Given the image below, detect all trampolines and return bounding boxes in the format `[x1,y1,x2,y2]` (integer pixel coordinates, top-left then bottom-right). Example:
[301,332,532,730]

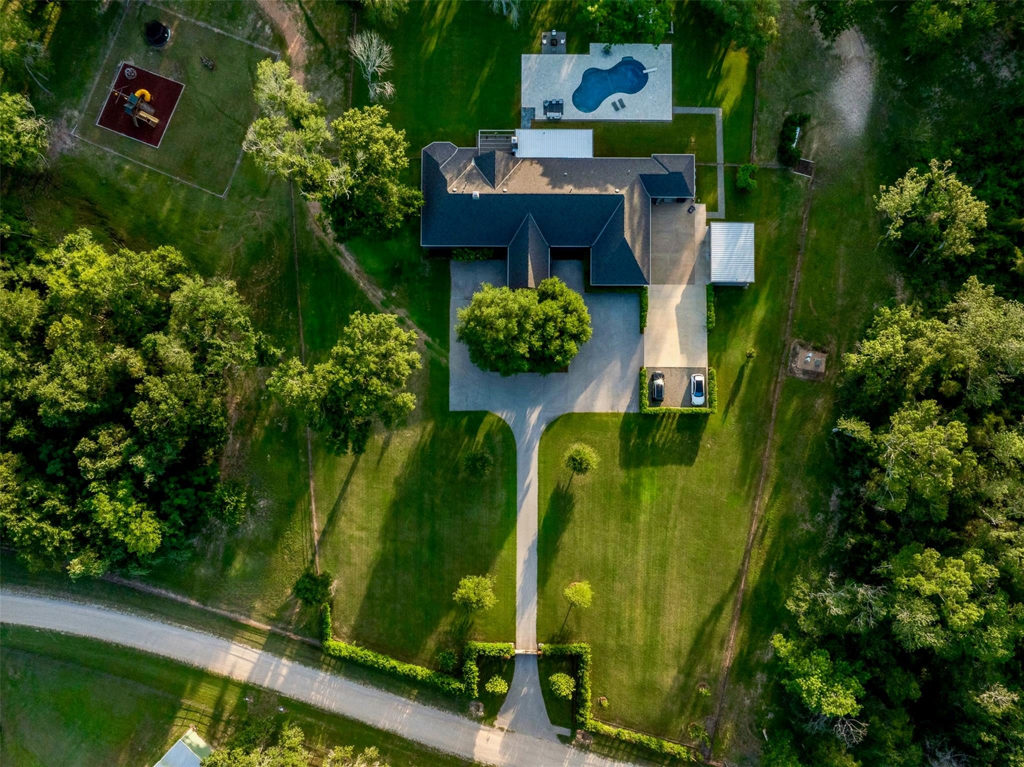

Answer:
[138,15,169,46]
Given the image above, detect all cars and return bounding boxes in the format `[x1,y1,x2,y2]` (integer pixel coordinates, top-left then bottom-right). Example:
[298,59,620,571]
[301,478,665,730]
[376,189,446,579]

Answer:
[692,374,705,405]
[652,372,667,401]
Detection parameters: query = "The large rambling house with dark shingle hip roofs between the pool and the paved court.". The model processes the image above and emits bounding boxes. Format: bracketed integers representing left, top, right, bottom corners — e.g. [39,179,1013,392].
[420,136,696,289]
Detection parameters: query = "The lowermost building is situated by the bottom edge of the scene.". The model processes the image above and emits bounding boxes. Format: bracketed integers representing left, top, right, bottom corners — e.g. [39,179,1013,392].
[154,722,219,767]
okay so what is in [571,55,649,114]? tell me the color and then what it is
blue swimming pool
